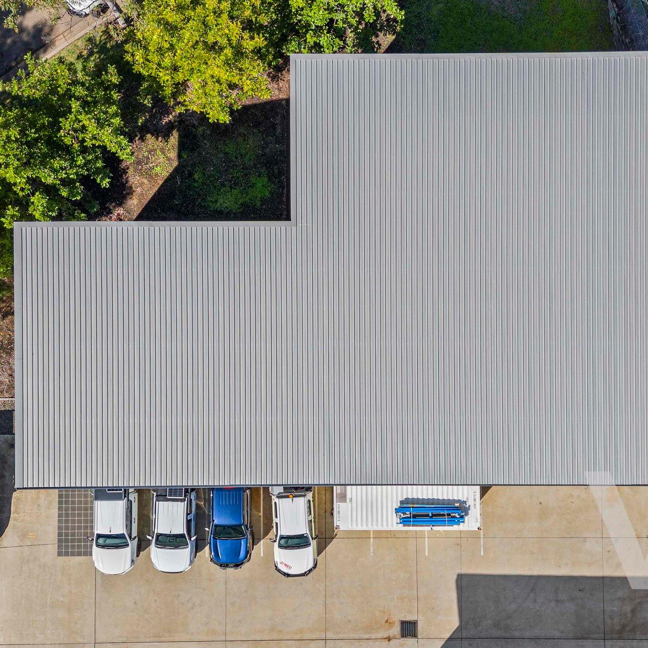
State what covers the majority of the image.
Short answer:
buildings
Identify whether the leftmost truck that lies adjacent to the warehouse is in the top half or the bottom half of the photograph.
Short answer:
bottom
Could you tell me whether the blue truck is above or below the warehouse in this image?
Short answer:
below it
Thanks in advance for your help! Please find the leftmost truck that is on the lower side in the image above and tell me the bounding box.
[88,487,142,577]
